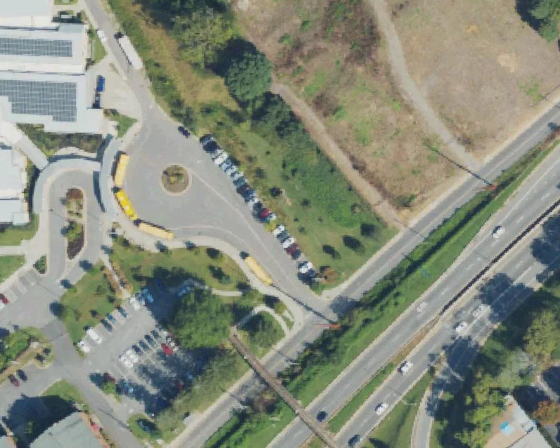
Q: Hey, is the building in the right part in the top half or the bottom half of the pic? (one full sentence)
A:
The building in the right part sits in the bottom half of the picture.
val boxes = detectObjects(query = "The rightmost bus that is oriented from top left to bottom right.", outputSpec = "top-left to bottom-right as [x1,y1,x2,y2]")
[245,256,273,285]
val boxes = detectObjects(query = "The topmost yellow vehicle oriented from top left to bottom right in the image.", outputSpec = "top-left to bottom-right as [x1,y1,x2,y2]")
[114,189,136,220]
